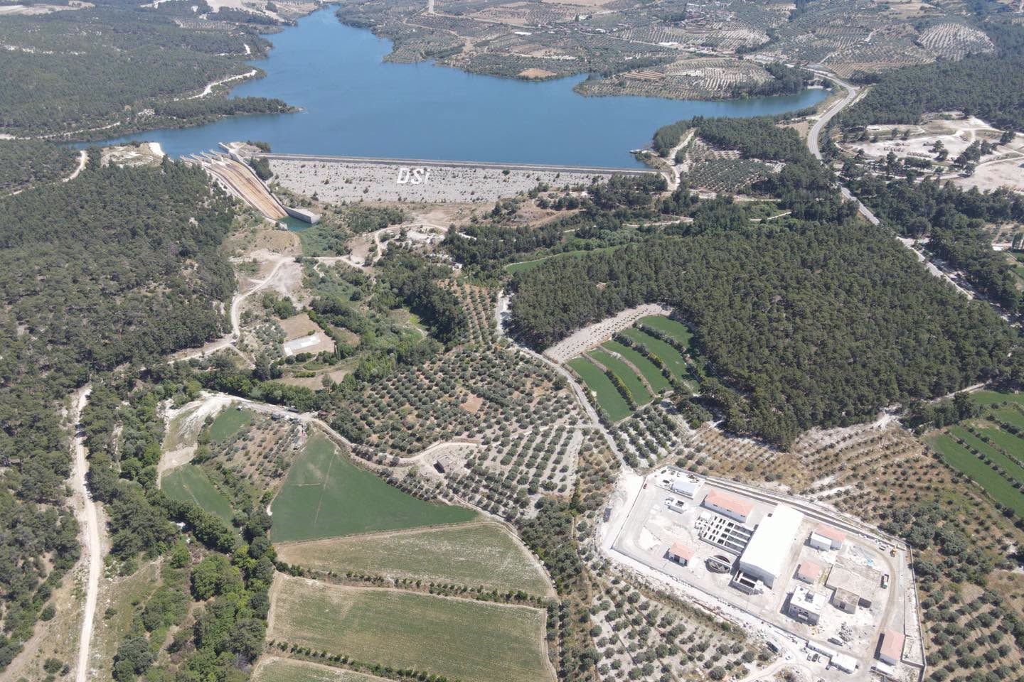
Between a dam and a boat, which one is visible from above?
dam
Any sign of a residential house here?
Yes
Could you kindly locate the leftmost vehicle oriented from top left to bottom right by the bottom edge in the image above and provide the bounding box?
[762,631,788,656]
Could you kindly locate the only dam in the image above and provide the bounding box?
[260,155,674,209]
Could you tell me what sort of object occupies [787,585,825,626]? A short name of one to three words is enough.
building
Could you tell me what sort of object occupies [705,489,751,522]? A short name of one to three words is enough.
house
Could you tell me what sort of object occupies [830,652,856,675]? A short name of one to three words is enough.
building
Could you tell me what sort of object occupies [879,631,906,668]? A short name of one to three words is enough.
house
